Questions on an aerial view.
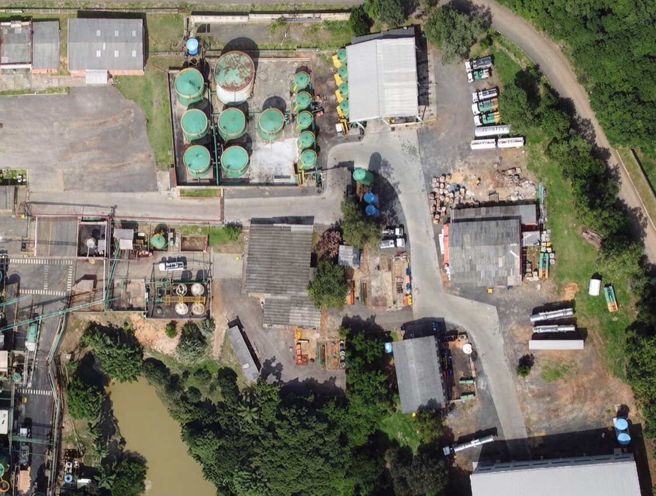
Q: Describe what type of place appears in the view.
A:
industrial area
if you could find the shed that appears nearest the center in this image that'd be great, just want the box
[337,246,359,266]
